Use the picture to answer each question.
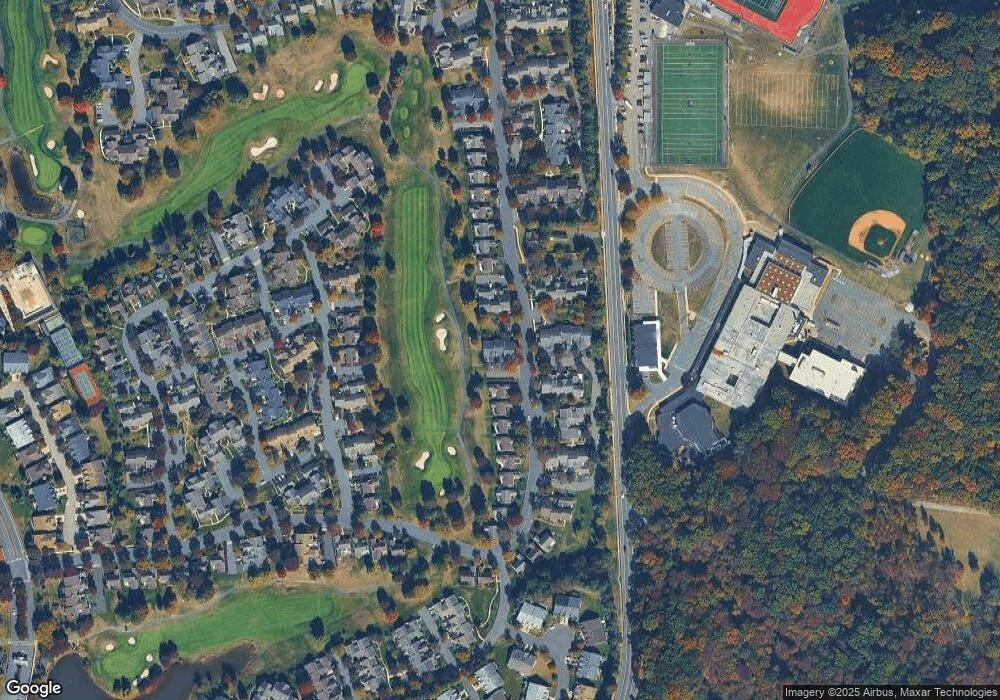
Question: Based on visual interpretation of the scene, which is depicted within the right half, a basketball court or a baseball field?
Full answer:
You can see a baseball field within the right half.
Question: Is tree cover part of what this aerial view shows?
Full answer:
Yes, tree cover shows up in the scene.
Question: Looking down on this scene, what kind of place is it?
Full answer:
The area seen from above is a residential area.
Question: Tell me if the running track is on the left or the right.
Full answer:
You can find the running track on the right side of the picture.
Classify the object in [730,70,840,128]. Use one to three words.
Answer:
sports field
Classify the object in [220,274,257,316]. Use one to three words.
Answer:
house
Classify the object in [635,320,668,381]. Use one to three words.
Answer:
building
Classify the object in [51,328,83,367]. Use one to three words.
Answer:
tennis court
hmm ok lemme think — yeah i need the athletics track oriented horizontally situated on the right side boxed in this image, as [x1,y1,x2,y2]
[712,0,822,43]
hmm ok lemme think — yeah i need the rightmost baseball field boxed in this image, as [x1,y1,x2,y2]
[789,130,925,266]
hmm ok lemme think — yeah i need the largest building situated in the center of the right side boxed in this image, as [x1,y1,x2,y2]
[696,236,830,407]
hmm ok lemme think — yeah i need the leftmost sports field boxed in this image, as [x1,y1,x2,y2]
[650,37,729,168]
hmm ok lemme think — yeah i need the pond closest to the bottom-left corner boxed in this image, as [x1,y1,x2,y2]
[41,654,119,700]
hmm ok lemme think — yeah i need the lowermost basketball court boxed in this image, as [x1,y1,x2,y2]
[69,363,103,407]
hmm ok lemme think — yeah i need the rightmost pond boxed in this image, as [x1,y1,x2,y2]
[144,641,253,700]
